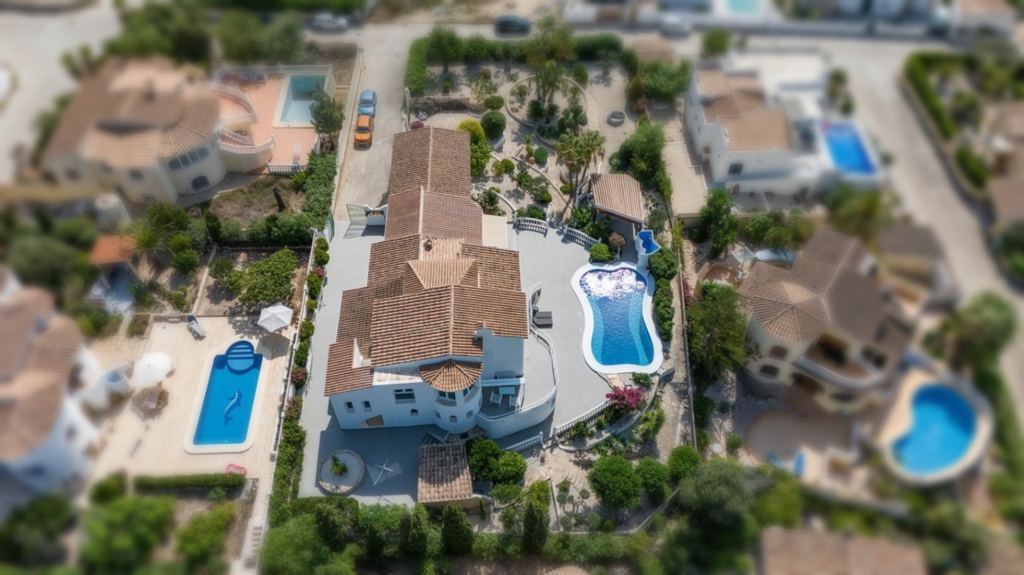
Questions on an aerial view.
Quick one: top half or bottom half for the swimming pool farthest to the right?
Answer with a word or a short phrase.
bottom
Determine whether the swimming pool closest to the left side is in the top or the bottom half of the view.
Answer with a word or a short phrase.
bottom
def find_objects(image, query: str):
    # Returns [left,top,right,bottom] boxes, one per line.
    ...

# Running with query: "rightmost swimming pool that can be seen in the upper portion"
[809,117,890,192]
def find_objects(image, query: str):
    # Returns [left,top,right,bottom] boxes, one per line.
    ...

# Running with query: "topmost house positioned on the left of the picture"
[36,62,262,206]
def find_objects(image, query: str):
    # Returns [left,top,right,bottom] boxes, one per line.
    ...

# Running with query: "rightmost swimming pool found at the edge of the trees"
[873,371,989,493]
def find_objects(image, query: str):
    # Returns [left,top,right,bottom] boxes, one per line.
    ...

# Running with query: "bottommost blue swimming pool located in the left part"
[185,334,269,454]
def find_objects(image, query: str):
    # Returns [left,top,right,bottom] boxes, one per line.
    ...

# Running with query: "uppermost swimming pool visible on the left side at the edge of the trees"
[274,73,329,126]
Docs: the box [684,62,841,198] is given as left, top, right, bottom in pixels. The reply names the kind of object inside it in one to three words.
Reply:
house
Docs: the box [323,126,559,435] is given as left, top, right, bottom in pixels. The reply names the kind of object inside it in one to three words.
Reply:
house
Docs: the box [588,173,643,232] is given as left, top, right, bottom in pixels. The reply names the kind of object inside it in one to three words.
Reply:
building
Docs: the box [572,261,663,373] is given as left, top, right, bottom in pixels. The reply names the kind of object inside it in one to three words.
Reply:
swimming pool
